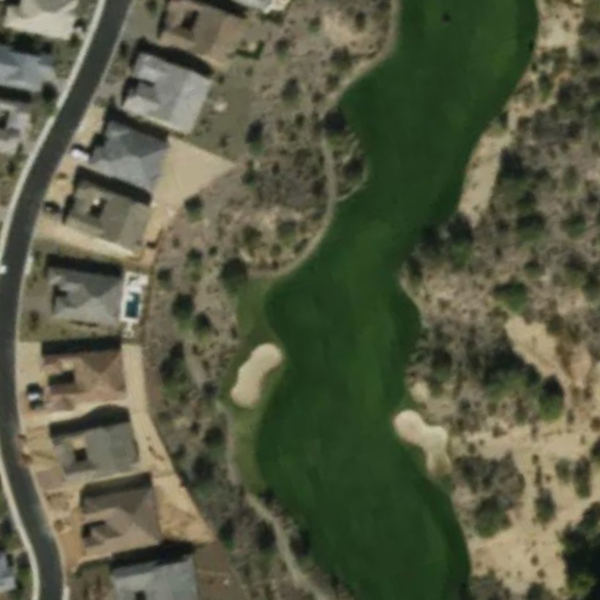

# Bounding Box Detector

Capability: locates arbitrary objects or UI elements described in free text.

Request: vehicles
[73,25,85,35]
[43,205,62,215]
[31,390,40,409]
[70,149,91,162]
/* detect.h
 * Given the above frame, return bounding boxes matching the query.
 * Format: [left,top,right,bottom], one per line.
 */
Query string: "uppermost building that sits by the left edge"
[5,0,79,39]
